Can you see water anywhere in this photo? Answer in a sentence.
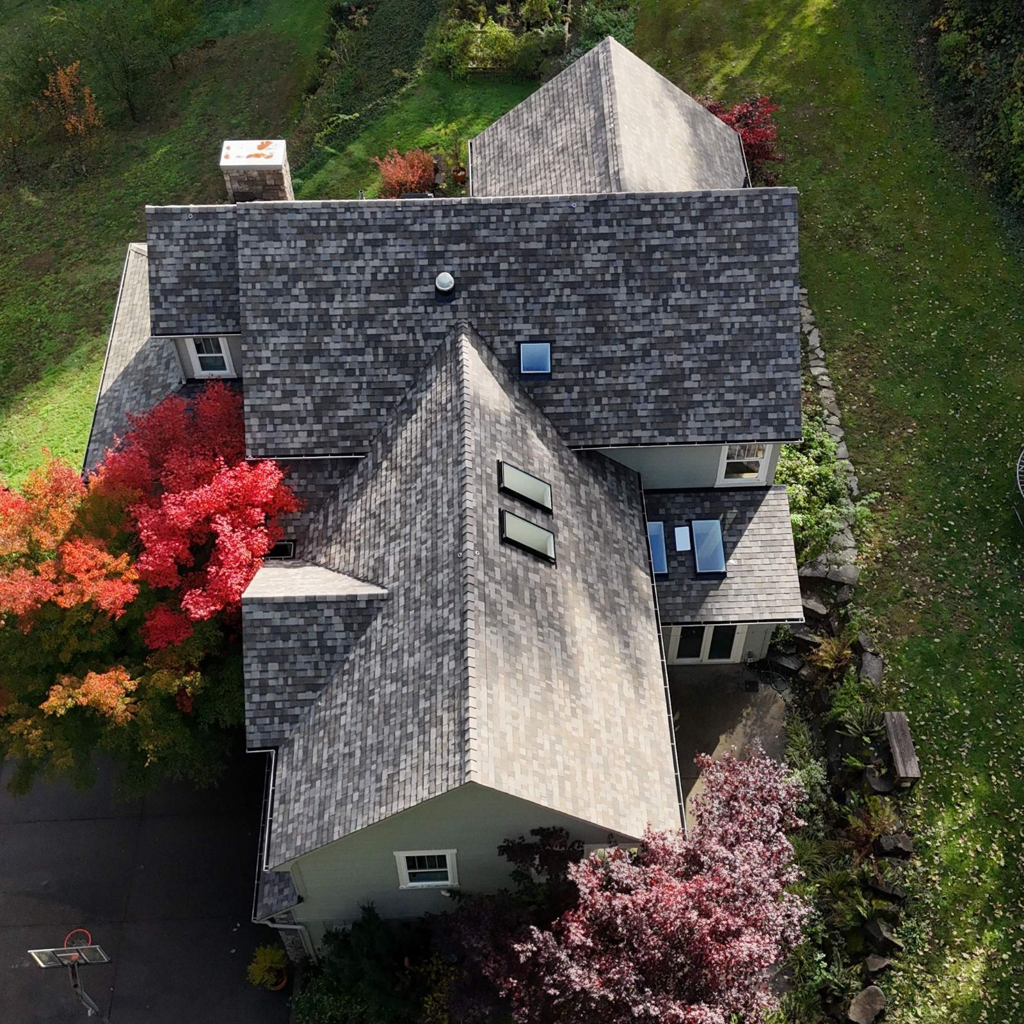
No, no water is visible.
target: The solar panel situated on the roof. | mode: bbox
[674,524,691,550]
